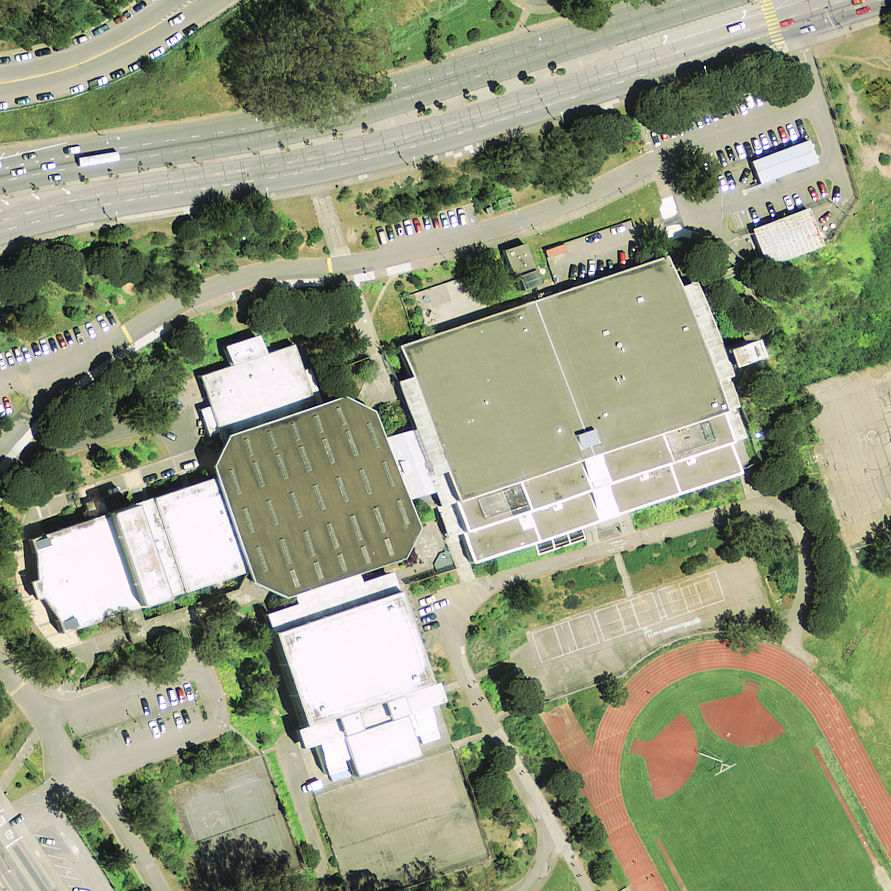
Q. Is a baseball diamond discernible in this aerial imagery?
Yes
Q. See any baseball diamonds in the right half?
Yes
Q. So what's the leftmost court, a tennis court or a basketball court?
tennis court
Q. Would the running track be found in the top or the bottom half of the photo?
bottom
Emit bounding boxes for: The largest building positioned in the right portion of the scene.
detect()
[399,256,747,563]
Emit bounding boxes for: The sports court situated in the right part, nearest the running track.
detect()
[511,556,775,700]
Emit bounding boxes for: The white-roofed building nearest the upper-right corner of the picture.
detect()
[743,141,819,195]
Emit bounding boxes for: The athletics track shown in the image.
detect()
[542,640,891,891]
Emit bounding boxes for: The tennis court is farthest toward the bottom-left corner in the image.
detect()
[171,757,298,881]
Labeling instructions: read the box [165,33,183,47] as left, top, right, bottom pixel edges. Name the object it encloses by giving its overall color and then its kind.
white vehicle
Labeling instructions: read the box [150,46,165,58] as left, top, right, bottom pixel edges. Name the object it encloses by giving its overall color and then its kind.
white vehicle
